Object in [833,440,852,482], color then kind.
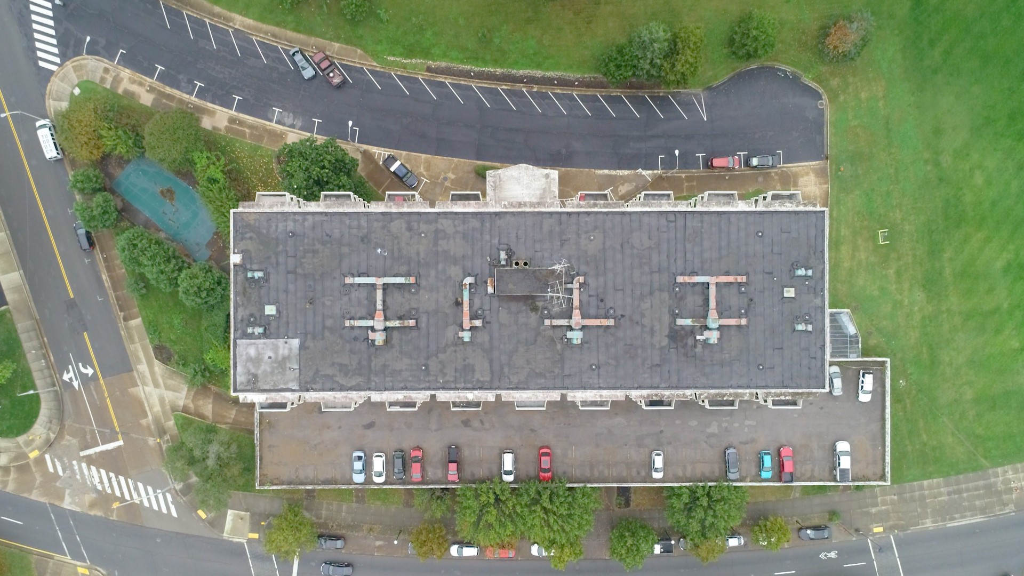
white vehicle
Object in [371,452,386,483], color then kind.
white car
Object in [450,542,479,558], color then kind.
white car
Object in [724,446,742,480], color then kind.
gray car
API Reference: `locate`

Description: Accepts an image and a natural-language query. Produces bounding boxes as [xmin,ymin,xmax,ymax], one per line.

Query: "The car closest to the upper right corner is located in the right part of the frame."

[746,153,780,168]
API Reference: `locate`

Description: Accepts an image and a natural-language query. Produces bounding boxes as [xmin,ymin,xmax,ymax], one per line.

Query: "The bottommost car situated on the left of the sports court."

[74,221,95,253]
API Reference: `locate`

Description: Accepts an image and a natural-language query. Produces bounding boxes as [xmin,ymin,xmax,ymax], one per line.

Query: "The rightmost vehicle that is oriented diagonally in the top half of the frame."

[382,152,418,189]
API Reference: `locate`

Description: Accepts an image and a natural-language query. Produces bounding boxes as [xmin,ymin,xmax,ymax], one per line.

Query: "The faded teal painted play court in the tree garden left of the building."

[112,156,216,261]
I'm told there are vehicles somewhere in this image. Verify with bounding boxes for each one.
[313,535,346,551]
[313,51,345,90]
[501,449,516,482]
[35,120,62,162]
[321,560,354,576]
[651,450,665,479]
[708,154,739,169]
[758,450,774,479]
[290,47,316,82]
[371,452,386,483]
[351,450,366,483]
[724,446,742,480]
[779,445,796,484]
[833,440,852,482]
[382,152,418,189]
[643,538,675,553]
[391,449,406,481]
[446,445,460,480]
[408,446,424,482]
[856,368,874,402]
[450,542,479,558]
[531,542,560,558]
[407,540,436,555]
[828,364,843,396]
[74,221,95,253]
[746,153,780,168]
[537,446,553,481]
[798,524,831,541]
